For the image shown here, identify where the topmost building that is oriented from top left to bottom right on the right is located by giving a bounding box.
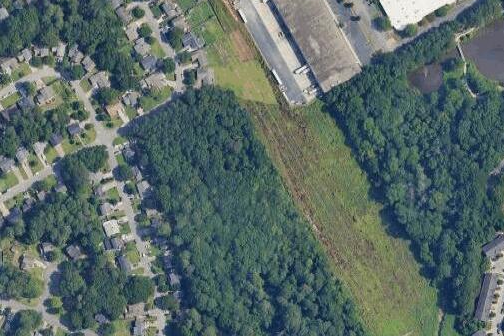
[273,0,361,88]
